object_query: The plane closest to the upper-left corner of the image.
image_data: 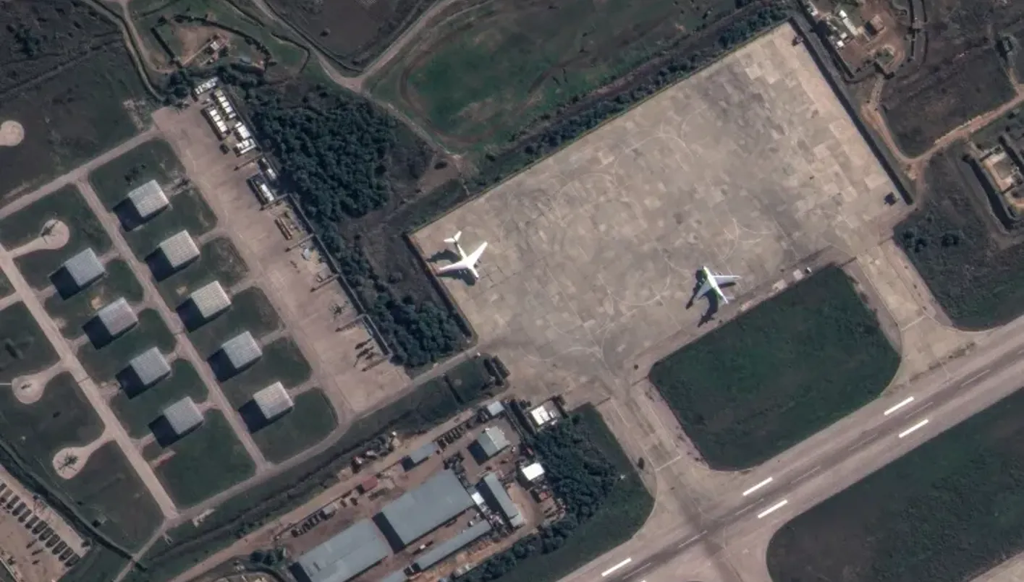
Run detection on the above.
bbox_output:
[441,230,488,277]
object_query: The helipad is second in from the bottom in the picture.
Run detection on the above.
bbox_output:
[13,354,74,403]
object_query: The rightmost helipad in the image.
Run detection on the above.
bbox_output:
[52,426,117,476]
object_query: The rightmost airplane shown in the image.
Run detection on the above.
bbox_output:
[695,267,742,310]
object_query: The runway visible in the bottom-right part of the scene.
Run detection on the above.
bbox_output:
[560,316,1024,582]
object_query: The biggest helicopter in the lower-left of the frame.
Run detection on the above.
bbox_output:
[56,448,82,471]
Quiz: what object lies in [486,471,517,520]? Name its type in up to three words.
shed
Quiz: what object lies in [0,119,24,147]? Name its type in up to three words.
helipad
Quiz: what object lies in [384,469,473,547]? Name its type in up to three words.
building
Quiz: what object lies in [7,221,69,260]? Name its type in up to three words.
helipad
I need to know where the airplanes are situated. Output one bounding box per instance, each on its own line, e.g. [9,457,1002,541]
[695,267,742,310]
[441,230,488,277]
